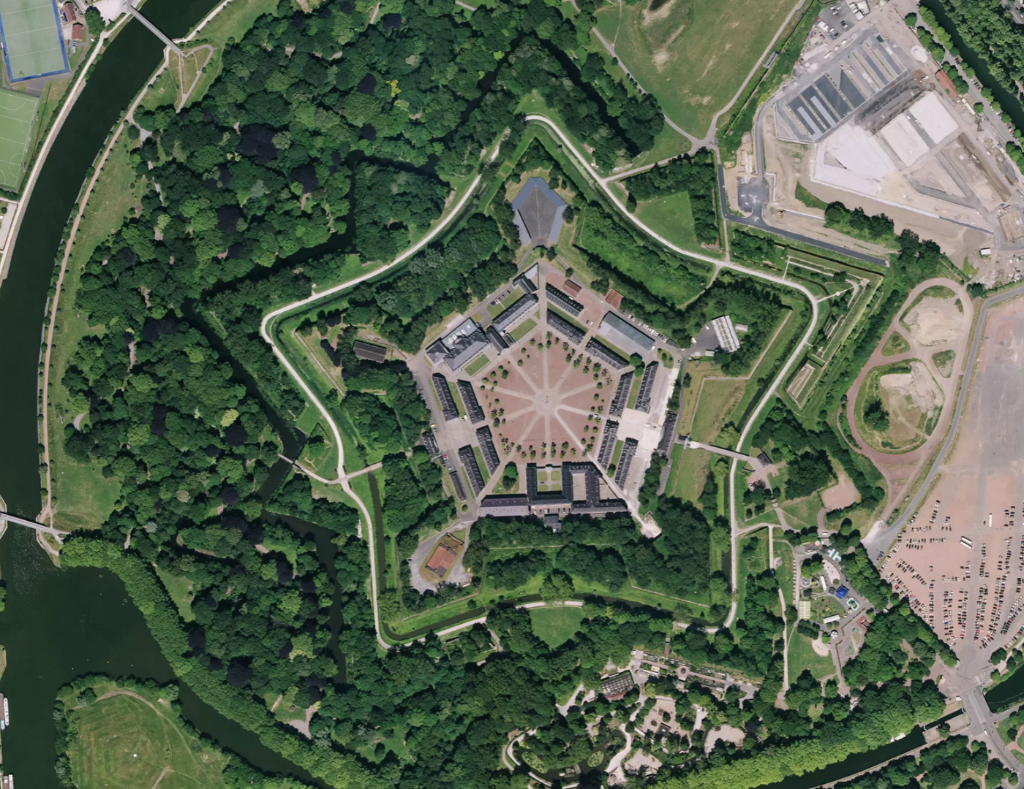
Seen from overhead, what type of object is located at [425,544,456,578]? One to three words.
house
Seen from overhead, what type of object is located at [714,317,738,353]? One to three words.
hangar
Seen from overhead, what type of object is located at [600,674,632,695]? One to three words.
building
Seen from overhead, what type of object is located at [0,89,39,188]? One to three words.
soccer field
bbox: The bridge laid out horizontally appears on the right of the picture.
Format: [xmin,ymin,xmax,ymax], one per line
[688,439,760,463]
